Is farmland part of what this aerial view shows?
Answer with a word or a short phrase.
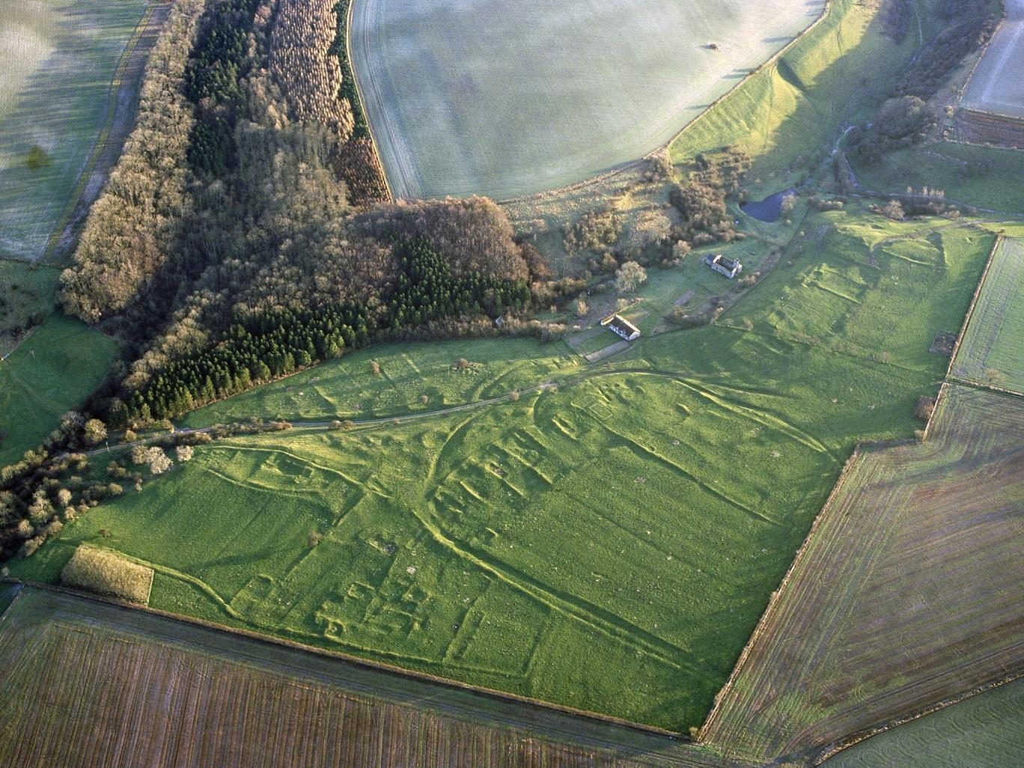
Yes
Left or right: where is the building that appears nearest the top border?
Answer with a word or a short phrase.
right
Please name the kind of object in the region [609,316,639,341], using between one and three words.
house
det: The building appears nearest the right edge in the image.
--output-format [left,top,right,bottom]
[706,254,744,280]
